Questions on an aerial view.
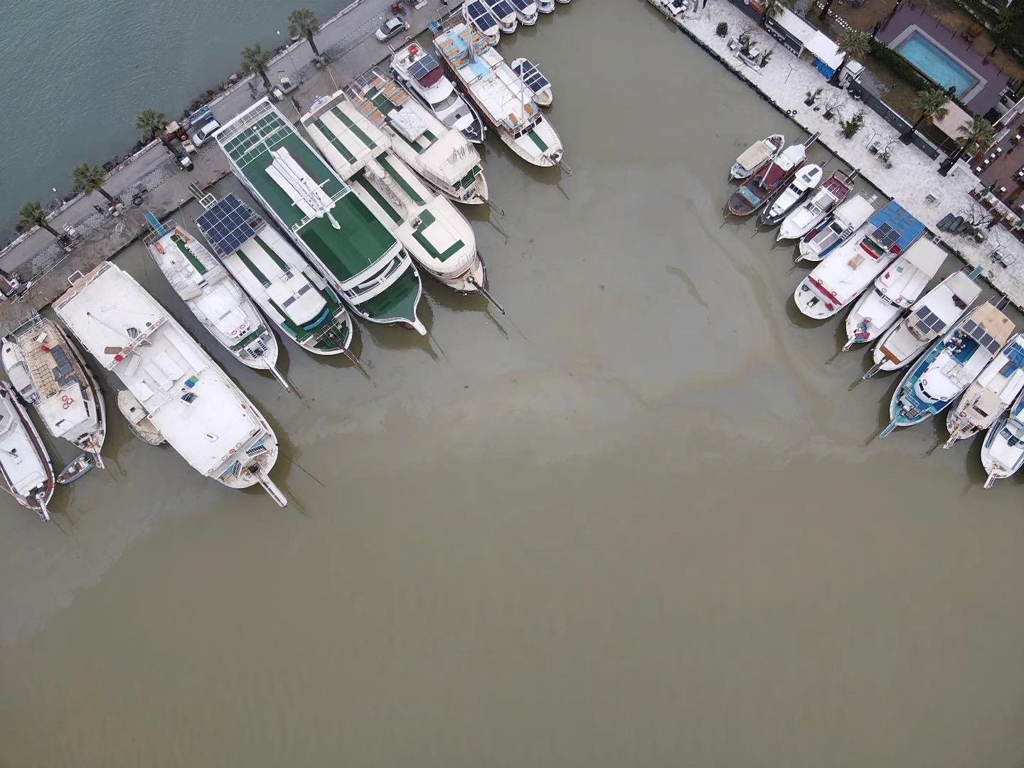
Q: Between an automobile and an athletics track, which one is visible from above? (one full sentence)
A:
Looking from above, you can make out an automobile.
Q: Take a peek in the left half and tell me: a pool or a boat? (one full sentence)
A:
It is a boat that can be seen in the left half.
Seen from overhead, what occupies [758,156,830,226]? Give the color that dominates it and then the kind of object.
white boat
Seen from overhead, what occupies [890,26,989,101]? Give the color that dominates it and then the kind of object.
blue swimming pool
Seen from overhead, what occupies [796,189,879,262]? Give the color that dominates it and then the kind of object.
white boat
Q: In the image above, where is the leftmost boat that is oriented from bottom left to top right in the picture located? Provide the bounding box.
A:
[56,452,102,485]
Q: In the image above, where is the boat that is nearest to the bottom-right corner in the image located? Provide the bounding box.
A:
[979,393,1024,489]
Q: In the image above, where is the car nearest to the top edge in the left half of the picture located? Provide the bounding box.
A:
[376,13,408,41]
